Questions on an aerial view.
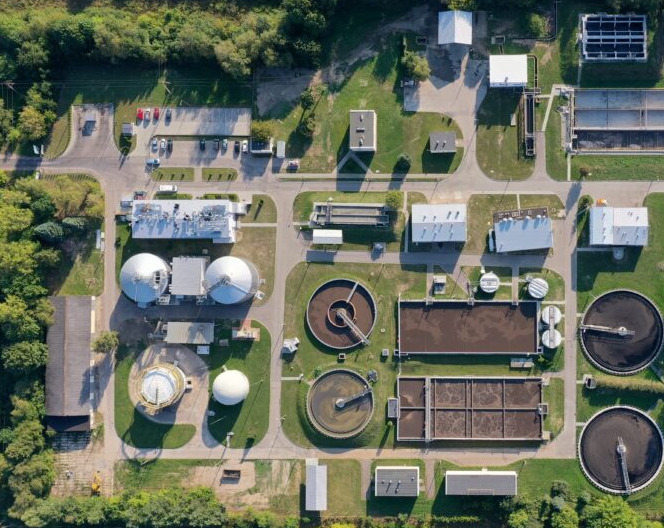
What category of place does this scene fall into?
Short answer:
industrial area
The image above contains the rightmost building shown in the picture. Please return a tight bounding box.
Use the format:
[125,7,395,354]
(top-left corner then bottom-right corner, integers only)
[587,207,648,254]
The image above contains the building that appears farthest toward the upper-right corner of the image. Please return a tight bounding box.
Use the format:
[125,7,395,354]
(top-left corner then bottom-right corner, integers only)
[489,54,527,89]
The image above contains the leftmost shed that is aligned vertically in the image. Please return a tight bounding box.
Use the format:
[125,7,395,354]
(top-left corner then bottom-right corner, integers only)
[47,296,99,416]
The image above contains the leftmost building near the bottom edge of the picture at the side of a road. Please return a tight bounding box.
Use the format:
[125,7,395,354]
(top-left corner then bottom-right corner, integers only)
[306,455,328,510]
